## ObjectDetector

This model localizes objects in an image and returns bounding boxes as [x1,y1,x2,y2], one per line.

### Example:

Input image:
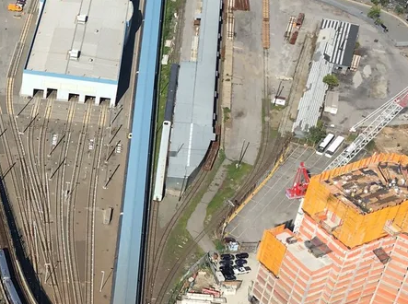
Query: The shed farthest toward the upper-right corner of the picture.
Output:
[317,18,359,77]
